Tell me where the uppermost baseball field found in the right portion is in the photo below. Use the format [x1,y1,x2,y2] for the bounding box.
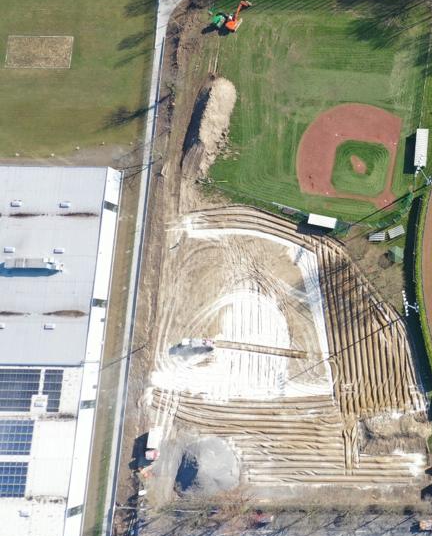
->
[203,0,432,223]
